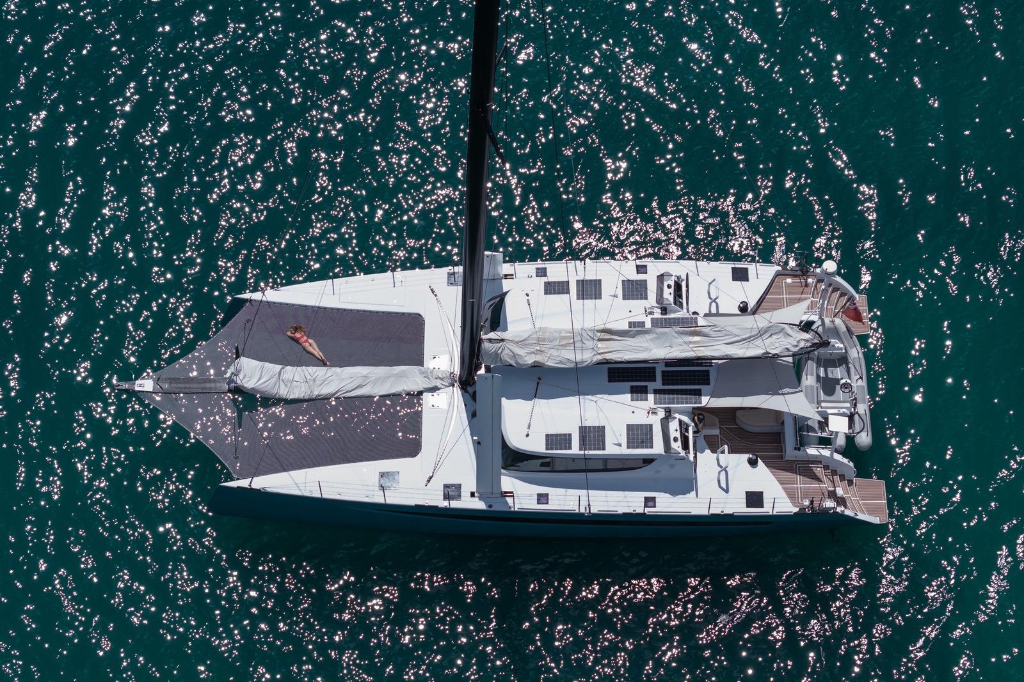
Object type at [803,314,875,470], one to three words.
boat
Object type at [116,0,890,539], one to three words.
boat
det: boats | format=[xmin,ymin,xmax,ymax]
[116,0,890,539]
[803,314,875,470]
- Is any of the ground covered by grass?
No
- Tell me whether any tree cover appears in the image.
No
